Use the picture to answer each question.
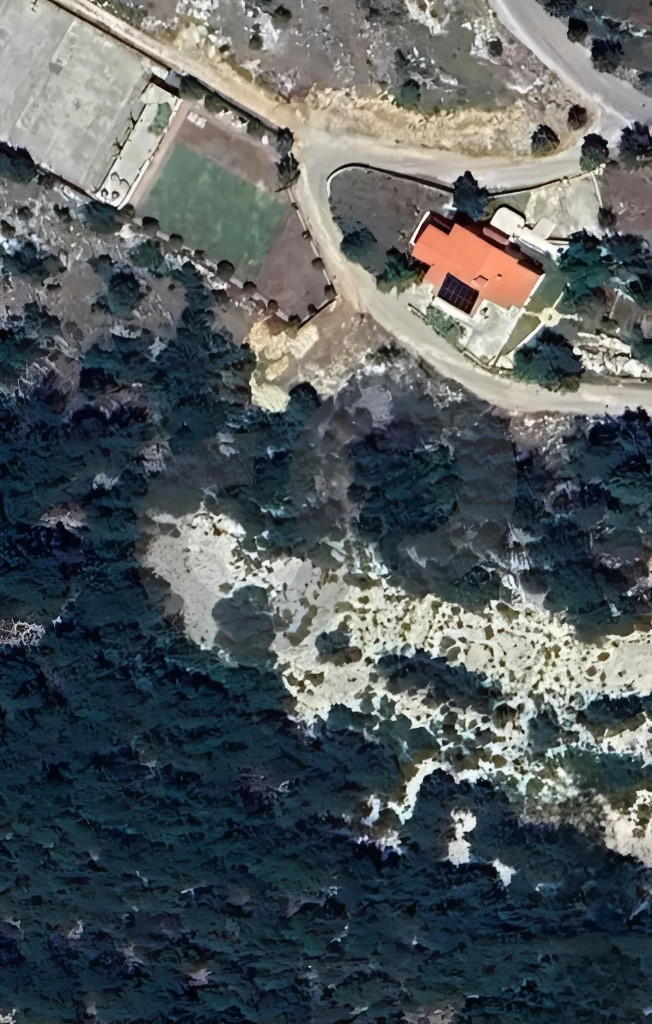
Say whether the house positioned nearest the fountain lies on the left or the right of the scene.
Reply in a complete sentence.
The house positioned nearest the fountain is on the right side of the image.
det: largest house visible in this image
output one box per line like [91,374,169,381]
[412,211,544,324]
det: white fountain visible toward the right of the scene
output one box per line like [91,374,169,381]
[540,306,561,327]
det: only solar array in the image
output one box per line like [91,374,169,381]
[439,271,480,312]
